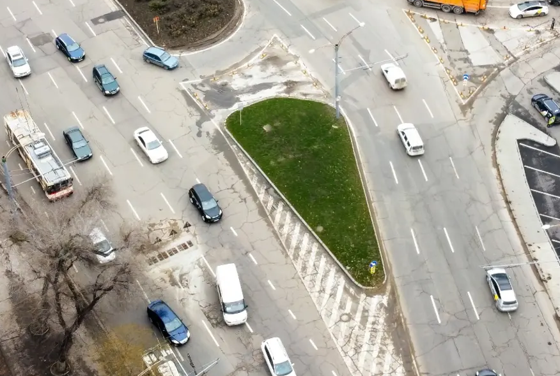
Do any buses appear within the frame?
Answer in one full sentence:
Yes, I can see a bus in this picture.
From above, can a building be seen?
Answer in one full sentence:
No, there isn't any building down there.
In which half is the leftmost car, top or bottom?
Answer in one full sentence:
You can find the leftmost car in the top half.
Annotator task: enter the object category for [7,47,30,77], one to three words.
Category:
car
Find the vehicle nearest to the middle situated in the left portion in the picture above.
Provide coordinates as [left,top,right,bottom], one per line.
[189,182,223,224]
